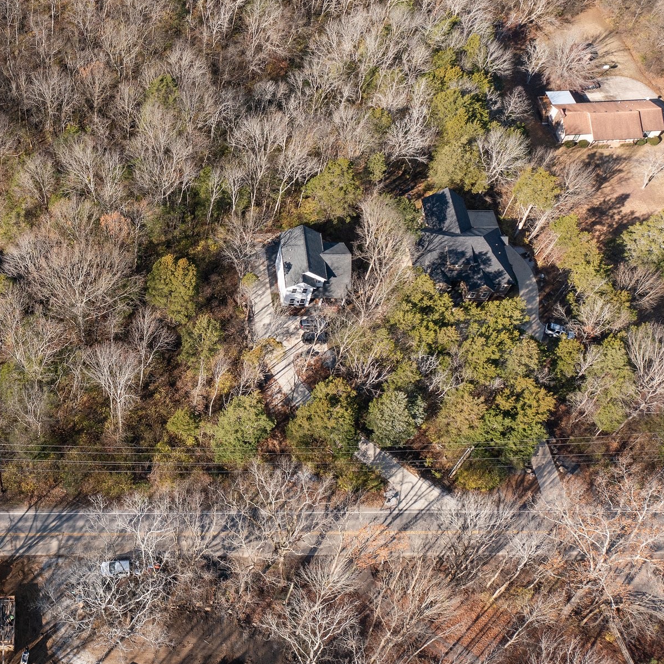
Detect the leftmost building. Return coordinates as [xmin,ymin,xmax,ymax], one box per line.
[273,224,353,309]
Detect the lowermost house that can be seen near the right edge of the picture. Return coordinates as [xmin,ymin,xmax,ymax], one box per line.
[524,93,664,152]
